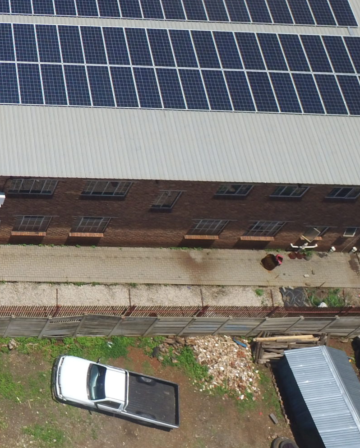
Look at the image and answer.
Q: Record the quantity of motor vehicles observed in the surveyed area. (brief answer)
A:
1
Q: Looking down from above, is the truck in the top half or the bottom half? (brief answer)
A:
bottom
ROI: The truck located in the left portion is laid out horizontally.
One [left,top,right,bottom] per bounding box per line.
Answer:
[45,359,190,441]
